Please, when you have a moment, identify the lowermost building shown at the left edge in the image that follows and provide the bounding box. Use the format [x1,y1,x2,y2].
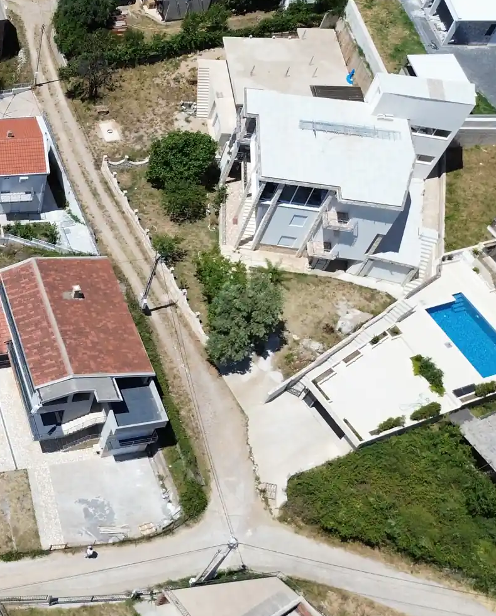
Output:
[0,256,170,461]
